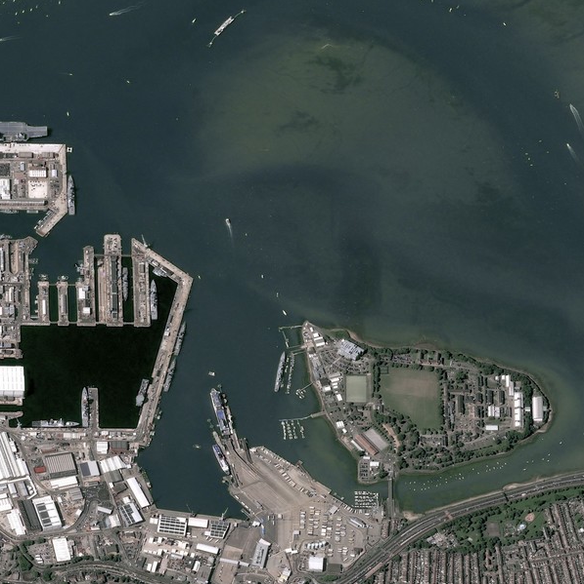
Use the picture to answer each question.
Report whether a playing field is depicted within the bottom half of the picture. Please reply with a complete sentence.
Yes, looking within the bottom half of the picture, one can make out a playing field.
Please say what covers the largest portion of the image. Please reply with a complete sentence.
What you mostly see from above here is water.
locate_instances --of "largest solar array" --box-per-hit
[159,518,186,534]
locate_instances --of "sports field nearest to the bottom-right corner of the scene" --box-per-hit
[378,365,443,429]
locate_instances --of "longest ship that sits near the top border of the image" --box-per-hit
[214,16,235,35]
